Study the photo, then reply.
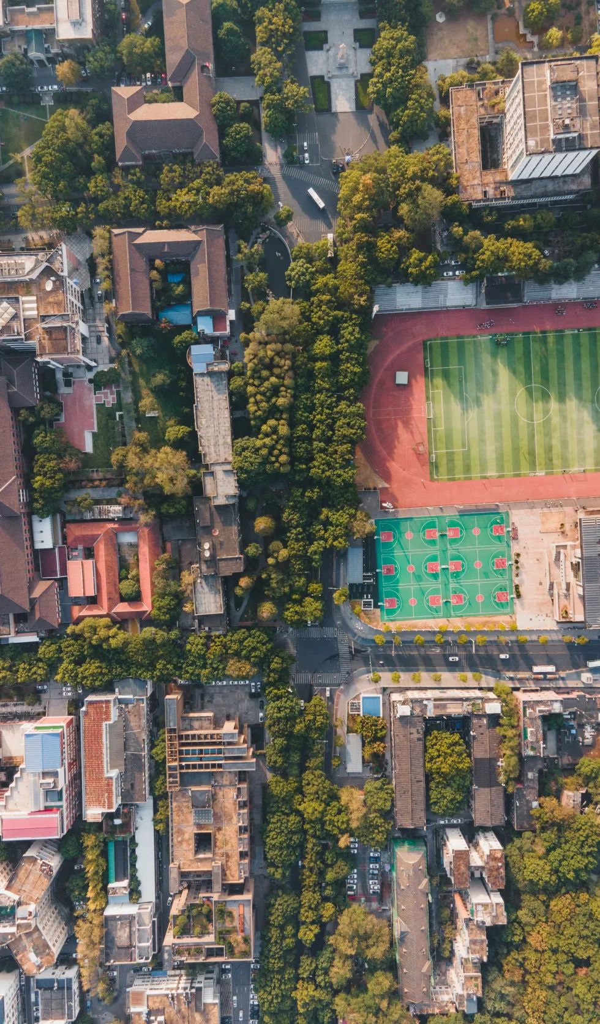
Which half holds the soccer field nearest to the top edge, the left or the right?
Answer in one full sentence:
The soccer field nearest to the top edge appears in the right half of the scene.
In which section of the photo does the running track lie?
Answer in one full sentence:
The running track is located in the right region of the scene.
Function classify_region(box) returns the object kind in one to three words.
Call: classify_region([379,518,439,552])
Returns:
basketball court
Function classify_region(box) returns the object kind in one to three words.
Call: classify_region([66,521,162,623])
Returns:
building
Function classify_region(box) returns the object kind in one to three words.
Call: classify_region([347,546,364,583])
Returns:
shed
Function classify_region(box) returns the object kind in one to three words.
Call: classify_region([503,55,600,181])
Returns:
building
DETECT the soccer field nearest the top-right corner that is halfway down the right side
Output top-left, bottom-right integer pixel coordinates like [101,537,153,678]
[422,329,600,481]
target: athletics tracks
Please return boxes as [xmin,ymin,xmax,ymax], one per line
[353,301,600,509]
